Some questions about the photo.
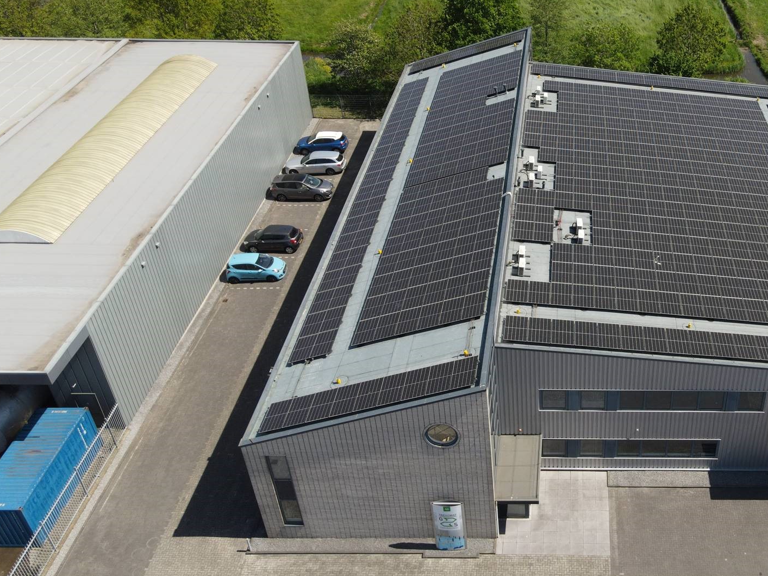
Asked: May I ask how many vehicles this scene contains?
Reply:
5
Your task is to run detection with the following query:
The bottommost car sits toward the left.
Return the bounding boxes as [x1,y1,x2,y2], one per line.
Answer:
[224,251,290,282]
